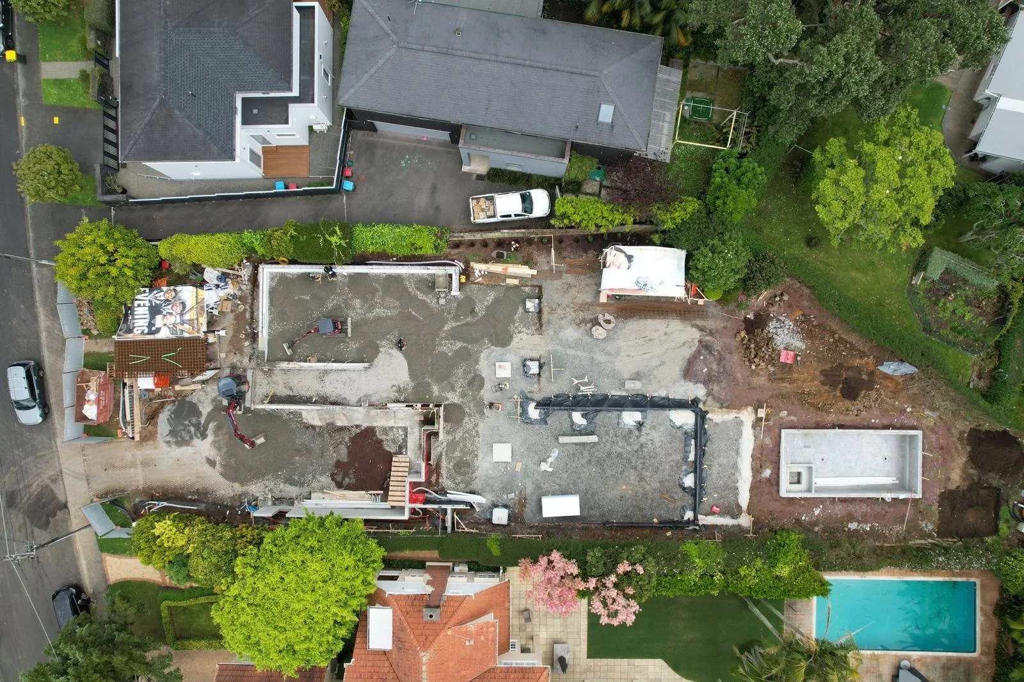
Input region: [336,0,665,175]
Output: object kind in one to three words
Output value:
house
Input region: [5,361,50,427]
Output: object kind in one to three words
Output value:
car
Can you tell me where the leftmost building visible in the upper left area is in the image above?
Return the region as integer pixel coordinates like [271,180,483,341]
[116,0,334,179]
